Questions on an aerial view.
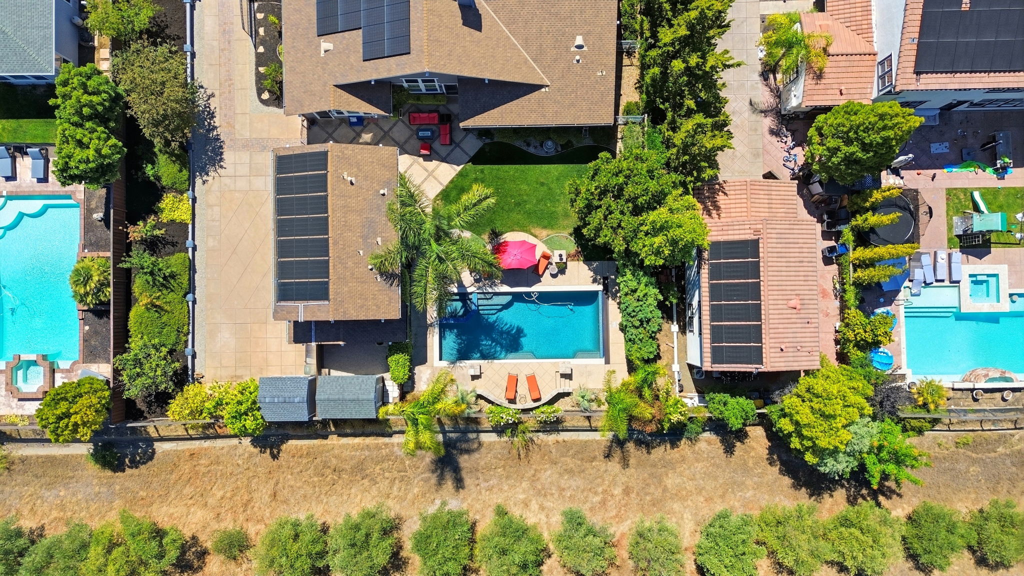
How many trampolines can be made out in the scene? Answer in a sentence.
The picture shows 1 trampoline.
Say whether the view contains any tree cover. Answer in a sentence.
Yes, some tree cover is visible.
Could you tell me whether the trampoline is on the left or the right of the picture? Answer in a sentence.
The trampoline is on the right side of the image.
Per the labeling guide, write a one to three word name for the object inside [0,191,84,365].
swimming pool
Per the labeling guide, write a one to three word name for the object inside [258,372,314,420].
shed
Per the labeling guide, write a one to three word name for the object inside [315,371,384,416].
shed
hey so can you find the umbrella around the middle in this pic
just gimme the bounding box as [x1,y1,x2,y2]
[496,241,537,270]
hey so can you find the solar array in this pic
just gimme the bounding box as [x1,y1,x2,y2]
[315,0,409,59]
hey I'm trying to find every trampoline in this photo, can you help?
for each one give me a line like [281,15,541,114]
[861,188,932,247]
